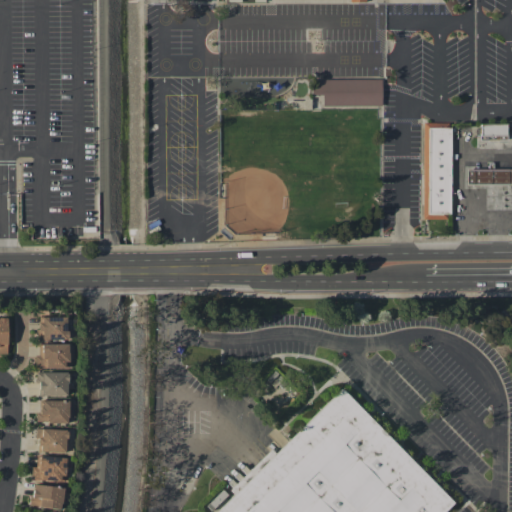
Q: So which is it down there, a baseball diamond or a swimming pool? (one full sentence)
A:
It is a baseball diamond that can be seen here.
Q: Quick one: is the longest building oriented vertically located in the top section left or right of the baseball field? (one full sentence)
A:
Looking at the picture, you'll find the longest building oriented vertically located in the top section to the right of the baseball field.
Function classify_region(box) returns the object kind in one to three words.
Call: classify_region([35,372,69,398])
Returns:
house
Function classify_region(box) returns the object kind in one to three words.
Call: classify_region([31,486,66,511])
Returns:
house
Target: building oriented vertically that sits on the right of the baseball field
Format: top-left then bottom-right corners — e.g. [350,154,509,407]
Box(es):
[425,122,454,220]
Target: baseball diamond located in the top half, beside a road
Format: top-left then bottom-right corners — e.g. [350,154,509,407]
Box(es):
[222,109,382,238]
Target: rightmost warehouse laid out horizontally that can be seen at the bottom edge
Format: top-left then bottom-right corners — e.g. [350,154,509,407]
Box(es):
[215,394,458,512]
